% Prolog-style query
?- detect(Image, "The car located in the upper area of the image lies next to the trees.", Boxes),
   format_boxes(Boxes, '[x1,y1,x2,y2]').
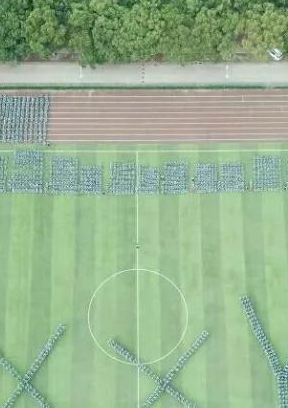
[265,44,285,60]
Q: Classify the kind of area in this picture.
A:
sports ground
